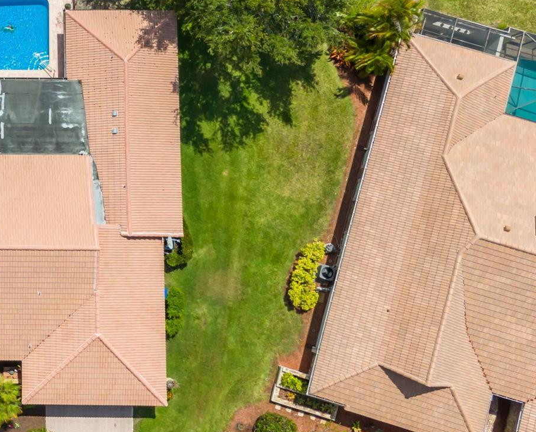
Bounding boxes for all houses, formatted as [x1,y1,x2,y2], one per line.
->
[0,7,184,408]
[307,34,536,432]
